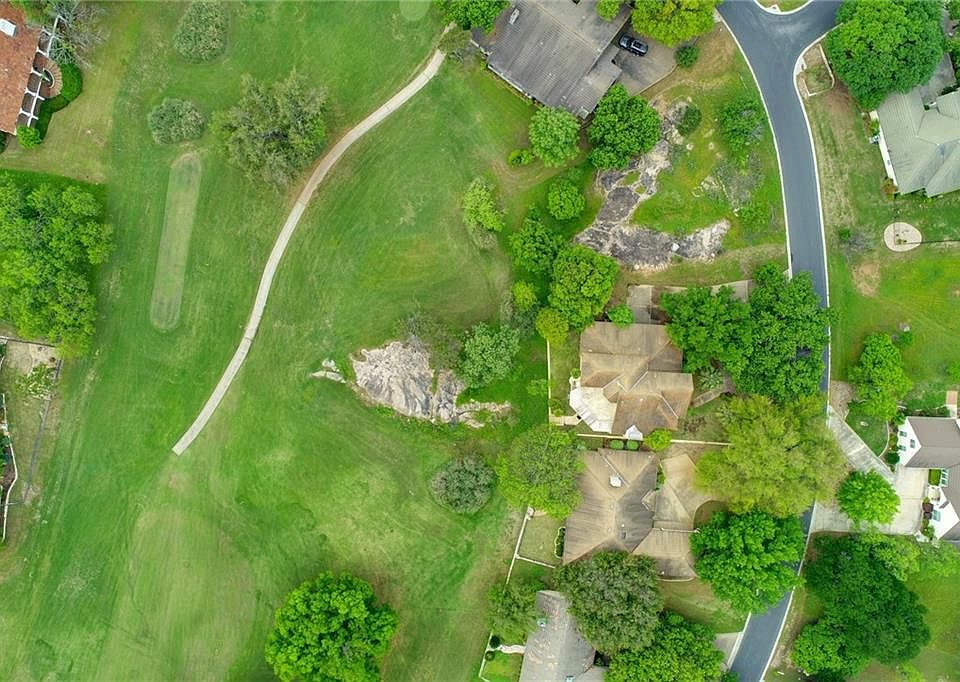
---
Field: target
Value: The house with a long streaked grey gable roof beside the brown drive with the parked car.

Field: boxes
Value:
[469,0,638,119]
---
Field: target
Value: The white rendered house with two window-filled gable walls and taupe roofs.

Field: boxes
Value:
[897,416,960,542]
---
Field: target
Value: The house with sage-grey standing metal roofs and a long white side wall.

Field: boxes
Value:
[865,84,960,197]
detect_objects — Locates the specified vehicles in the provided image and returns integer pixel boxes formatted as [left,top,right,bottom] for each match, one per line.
[619,33,650,53]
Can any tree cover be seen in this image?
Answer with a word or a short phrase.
Yes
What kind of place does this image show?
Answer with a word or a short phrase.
golf course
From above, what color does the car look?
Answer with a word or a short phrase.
black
